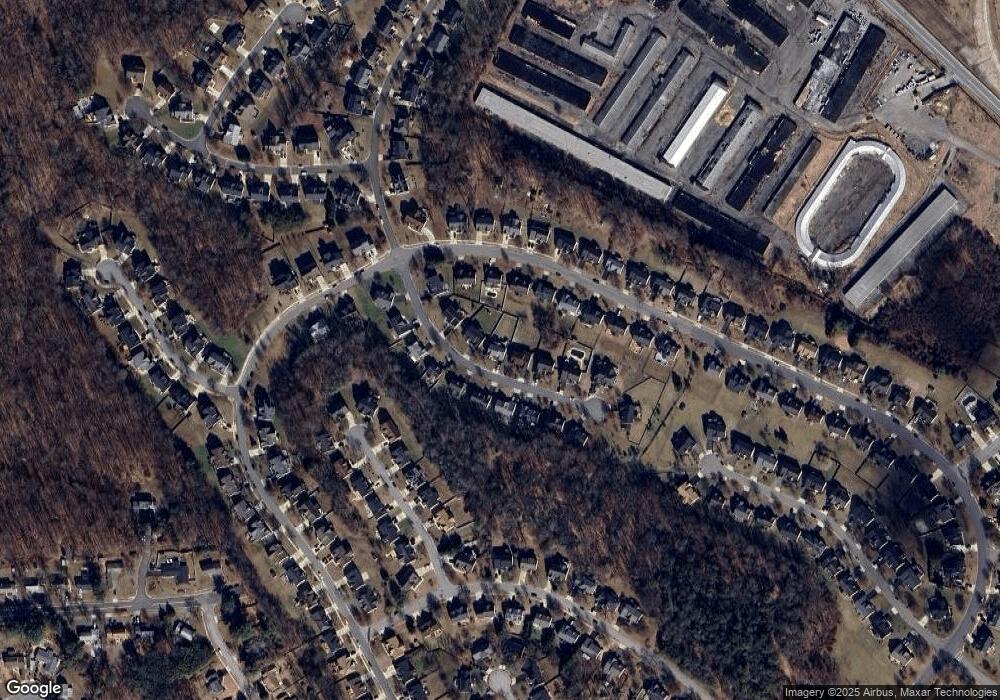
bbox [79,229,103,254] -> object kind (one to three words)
house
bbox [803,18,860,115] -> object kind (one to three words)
barn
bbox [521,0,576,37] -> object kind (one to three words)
barn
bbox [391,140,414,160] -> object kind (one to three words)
house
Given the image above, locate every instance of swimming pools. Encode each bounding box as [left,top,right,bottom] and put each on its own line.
[485,290,498,299]
[569,348,586,360]
[960,392,978,407]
